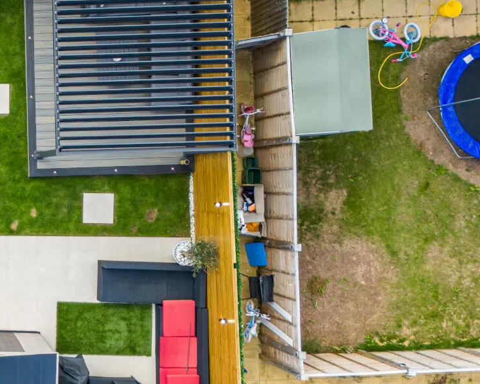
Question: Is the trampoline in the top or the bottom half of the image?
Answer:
top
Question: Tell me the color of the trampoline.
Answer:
blue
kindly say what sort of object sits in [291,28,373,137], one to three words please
shed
